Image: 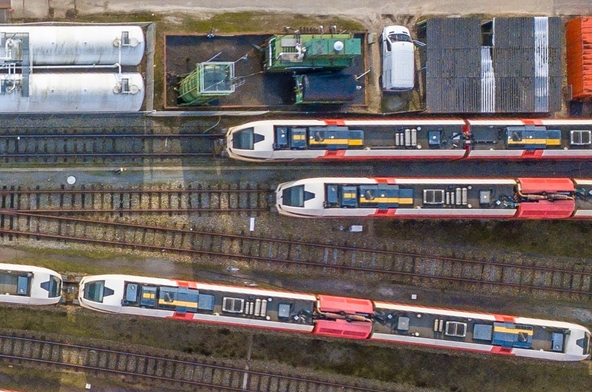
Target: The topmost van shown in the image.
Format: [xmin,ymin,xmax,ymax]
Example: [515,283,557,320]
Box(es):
[383,25,426,91]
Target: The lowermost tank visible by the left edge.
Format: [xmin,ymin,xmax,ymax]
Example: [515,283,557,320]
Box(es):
[0,73,145,114]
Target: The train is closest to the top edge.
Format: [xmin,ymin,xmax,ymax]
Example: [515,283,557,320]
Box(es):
[218,120,592,161]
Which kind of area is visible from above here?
industrial area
